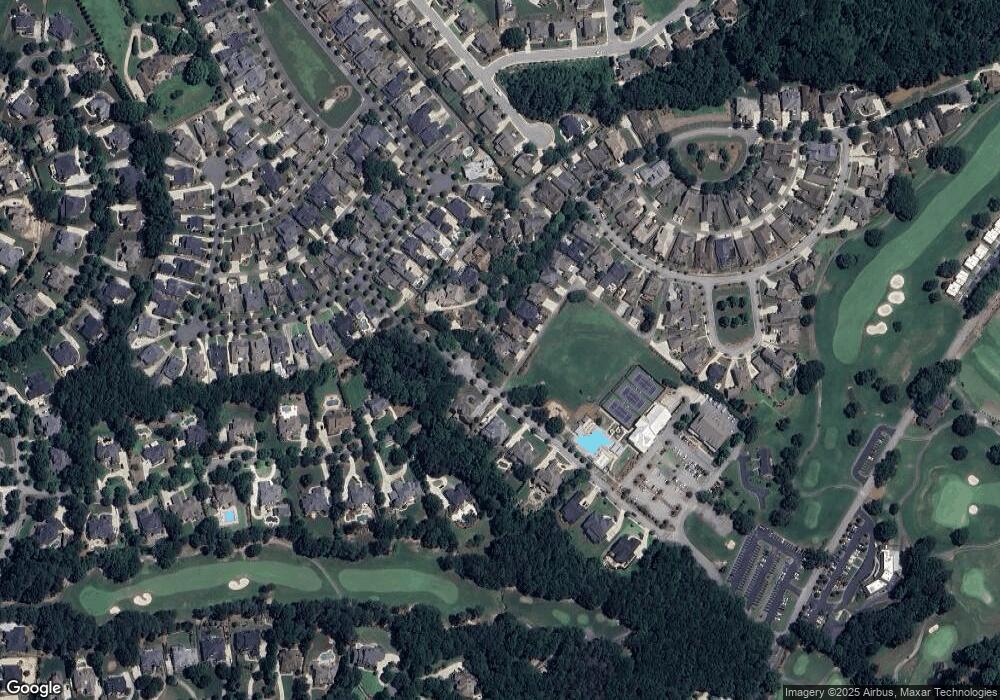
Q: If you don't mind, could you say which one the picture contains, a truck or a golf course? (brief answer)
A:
golf course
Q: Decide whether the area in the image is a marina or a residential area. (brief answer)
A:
residential area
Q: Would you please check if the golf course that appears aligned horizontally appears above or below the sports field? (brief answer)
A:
below it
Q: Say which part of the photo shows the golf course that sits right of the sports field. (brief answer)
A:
right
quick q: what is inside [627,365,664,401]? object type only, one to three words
tennis court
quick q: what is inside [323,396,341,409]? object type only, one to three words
swimming pool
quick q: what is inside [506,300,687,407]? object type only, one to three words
sports field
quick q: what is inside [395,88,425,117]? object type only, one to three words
house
